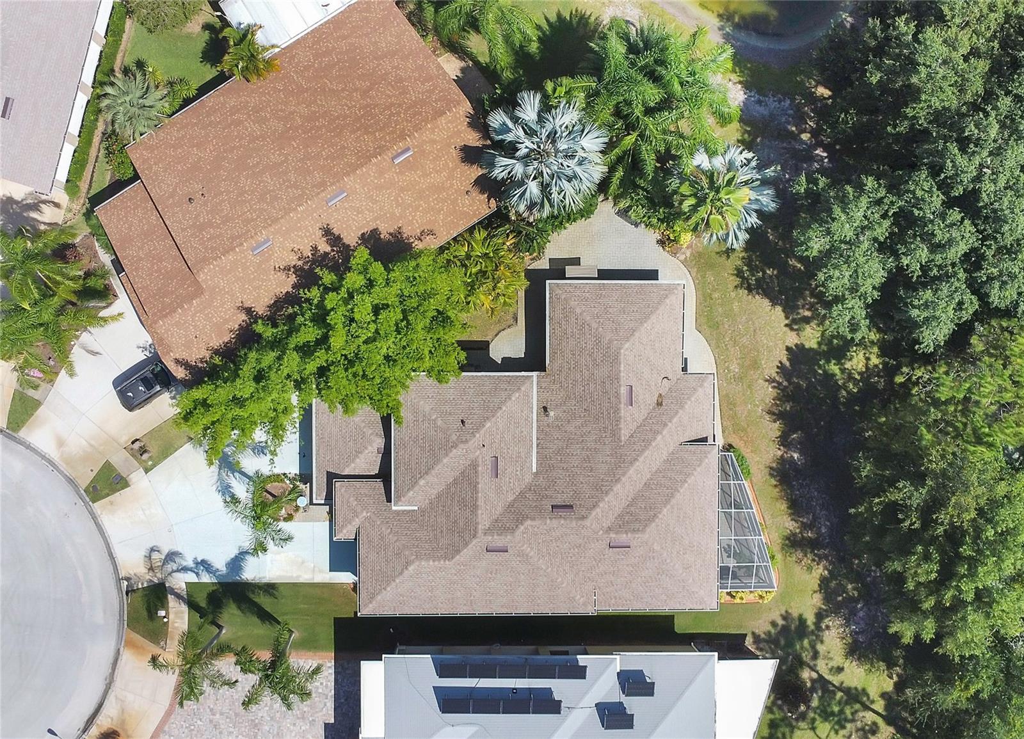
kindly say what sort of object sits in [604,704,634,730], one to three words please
solar panel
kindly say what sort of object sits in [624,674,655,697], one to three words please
solar panel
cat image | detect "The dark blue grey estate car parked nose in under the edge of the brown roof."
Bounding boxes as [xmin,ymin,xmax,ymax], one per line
[117,358,182,412]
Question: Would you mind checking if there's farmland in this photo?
No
